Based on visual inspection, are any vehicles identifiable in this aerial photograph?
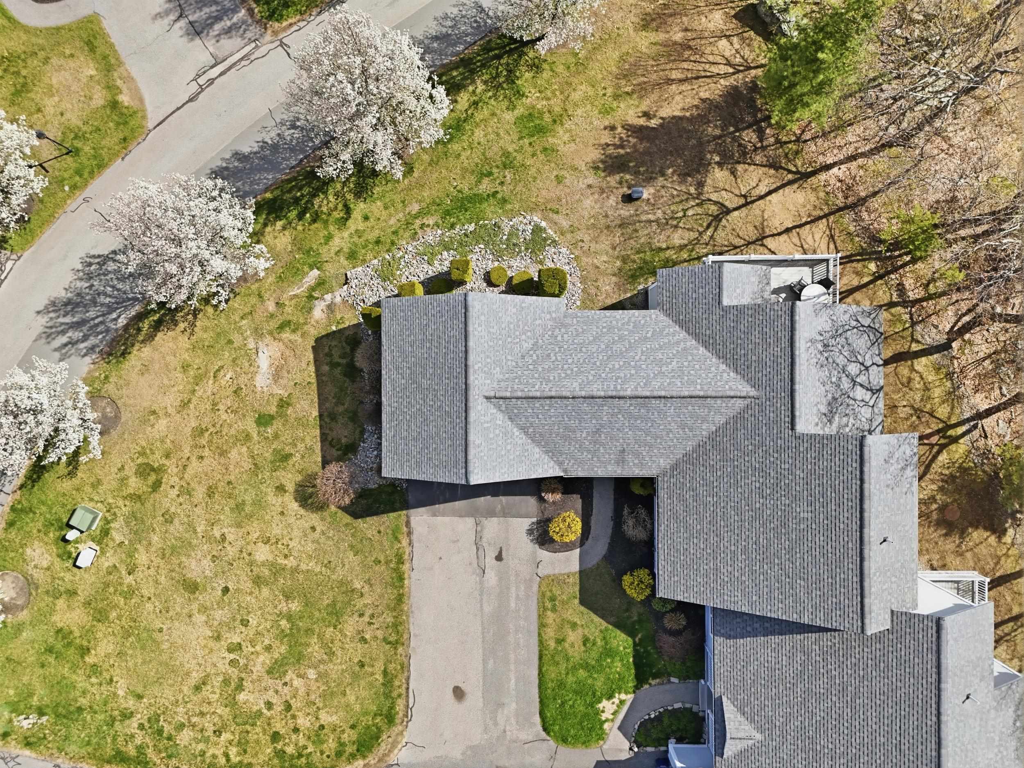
No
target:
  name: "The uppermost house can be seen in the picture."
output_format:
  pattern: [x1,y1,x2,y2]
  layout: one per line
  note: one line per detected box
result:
[380,262,919,636]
